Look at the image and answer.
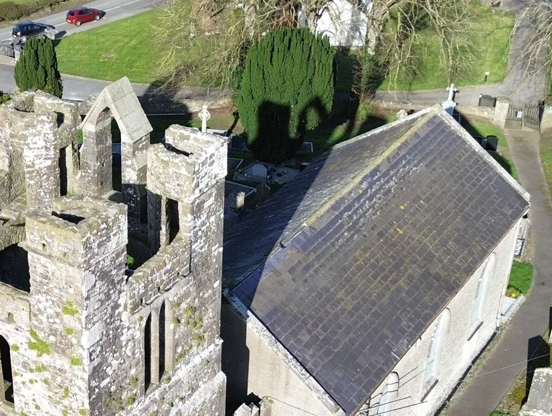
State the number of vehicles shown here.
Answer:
2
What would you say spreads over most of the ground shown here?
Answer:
buildings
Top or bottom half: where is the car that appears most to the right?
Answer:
top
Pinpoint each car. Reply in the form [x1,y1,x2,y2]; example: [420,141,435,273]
[64,4,106,26]
[8,18,55,38]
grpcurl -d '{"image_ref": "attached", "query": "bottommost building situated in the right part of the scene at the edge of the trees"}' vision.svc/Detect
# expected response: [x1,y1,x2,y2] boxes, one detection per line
[222,67,534,416]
